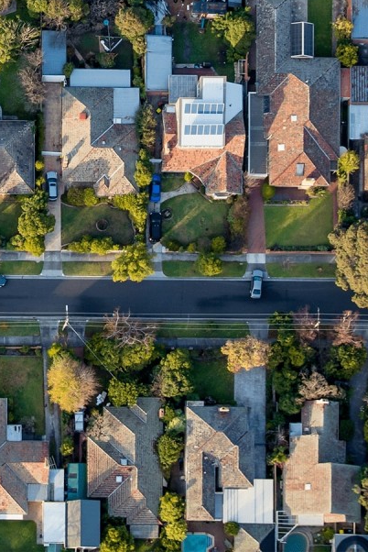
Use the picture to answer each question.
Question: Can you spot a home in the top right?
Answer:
Yes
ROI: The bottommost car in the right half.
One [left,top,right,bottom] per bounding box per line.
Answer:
[250,270,264,299]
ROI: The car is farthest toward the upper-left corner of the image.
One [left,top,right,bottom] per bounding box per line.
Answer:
[45,172,58,200]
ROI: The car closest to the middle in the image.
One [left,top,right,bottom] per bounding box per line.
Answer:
[149,213,162,244]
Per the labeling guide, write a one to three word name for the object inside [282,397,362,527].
house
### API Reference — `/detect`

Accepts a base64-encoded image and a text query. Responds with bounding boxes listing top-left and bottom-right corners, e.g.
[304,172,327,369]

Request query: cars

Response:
[0,276,6,289]
[150,175,163,203]
[149,213,162,244]
[45,172,58,200]
[250,270,264,299]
